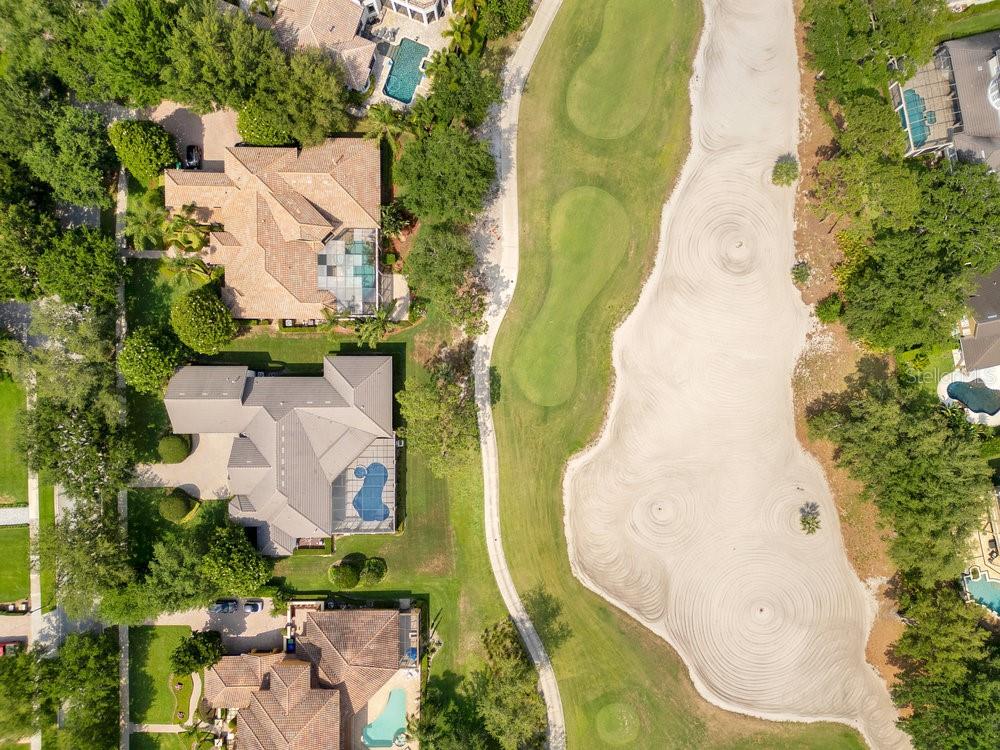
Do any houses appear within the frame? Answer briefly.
Yes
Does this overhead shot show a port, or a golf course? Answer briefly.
golf course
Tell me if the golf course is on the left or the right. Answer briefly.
right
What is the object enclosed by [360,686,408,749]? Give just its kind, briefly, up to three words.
swimming pool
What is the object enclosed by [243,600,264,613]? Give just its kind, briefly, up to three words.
vehicle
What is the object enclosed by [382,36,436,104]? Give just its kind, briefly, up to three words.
swimming pool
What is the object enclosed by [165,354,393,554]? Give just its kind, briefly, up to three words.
house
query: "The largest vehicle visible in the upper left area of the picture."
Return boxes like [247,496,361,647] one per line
[188,145,202,171]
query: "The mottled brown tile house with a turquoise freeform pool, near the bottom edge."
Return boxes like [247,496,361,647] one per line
[204,607,399,750]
